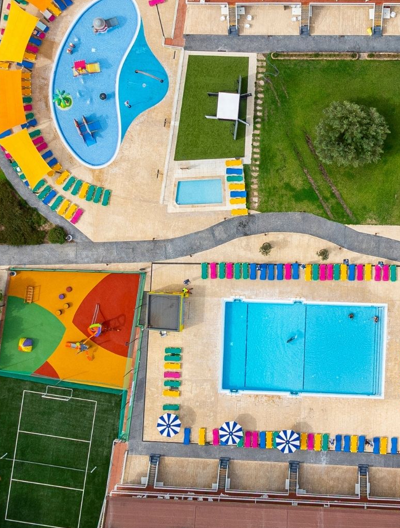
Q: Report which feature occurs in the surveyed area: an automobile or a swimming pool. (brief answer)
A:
swimming pool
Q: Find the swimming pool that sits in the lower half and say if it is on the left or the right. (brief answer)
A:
right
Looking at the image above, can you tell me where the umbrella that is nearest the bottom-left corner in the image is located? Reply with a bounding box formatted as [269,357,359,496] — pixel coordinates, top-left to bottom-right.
[157,413,181,436]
